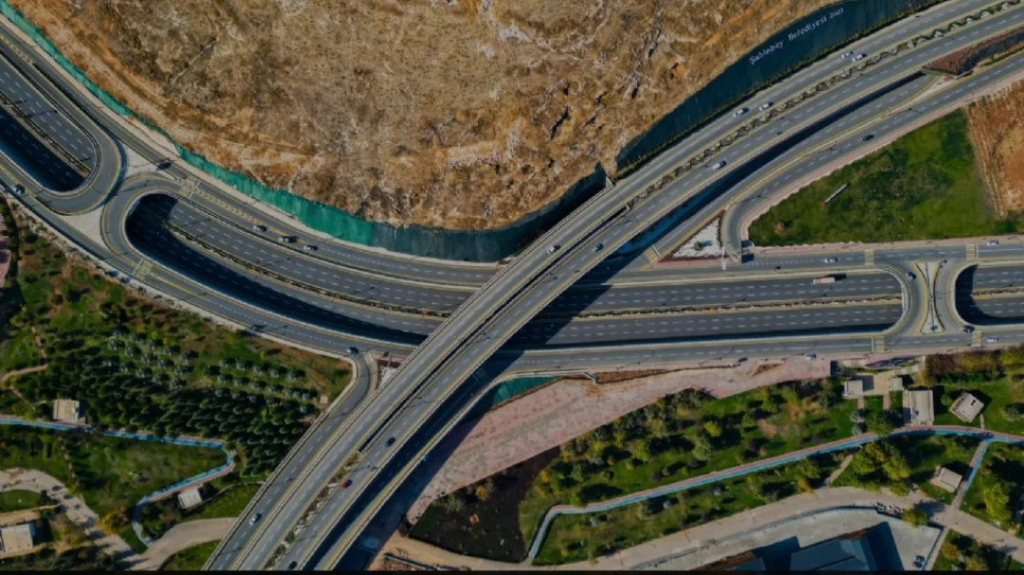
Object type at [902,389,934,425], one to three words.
building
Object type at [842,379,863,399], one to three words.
building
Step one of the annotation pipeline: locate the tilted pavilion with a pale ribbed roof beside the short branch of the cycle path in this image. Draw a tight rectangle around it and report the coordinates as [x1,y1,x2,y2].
[930,465,961,493]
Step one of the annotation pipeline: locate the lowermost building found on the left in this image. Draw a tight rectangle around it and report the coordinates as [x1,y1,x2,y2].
[0,521,40,552]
